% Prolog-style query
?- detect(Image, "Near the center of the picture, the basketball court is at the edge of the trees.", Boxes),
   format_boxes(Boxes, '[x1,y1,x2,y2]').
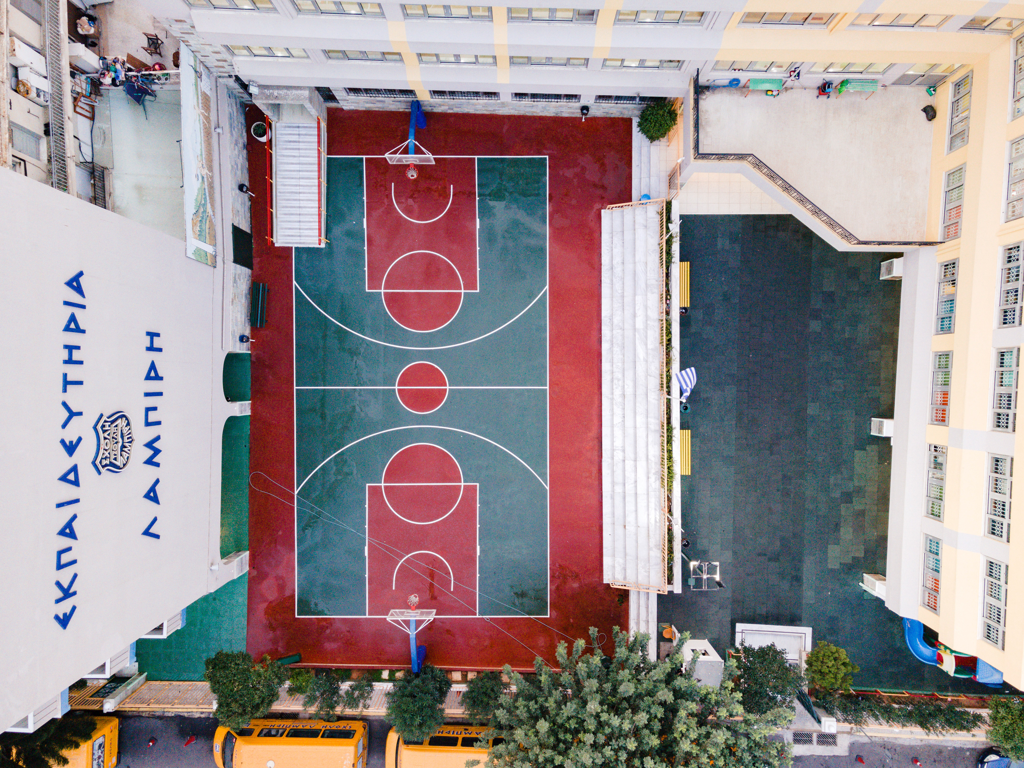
[247,106,631,669]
